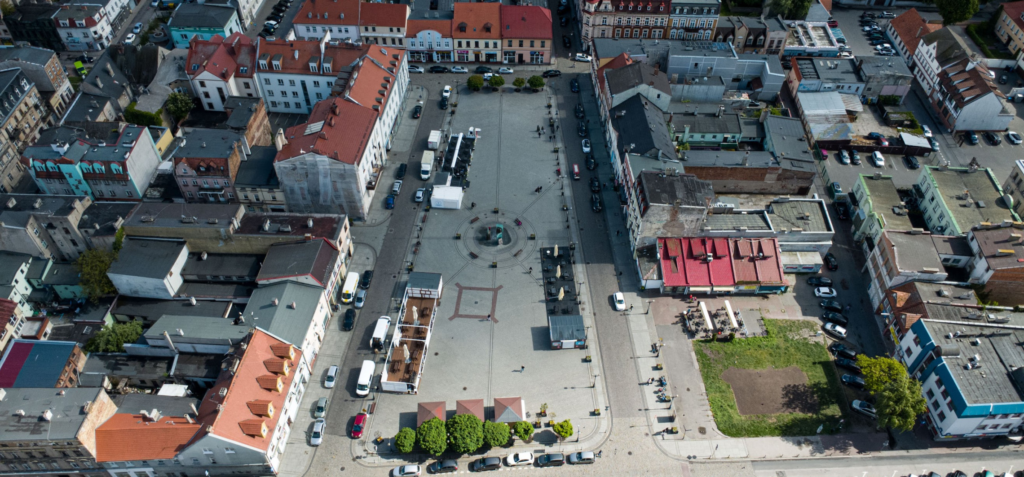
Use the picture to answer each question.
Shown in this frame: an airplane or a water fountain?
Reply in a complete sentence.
Of the two, only a water fountain appears.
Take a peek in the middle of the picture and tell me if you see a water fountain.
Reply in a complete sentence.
Yes, a water fountain shows up in the middle of the picture.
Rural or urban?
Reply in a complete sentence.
It looks urban.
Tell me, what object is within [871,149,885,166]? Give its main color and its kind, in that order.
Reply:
white car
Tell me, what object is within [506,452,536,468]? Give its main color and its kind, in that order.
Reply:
white car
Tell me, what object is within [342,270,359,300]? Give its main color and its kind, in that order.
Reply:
white vehicle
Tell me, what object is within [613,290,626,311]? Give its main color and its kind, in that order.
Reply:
white vehicle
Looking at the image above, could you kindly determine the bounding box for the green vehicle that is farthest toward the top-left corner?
[73,59,86,74]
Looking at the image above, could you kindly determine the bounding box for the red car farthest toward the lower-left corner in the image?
[351,413,367,438]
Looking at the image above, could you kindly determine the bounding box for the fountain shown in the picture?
[474,223,513,250]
